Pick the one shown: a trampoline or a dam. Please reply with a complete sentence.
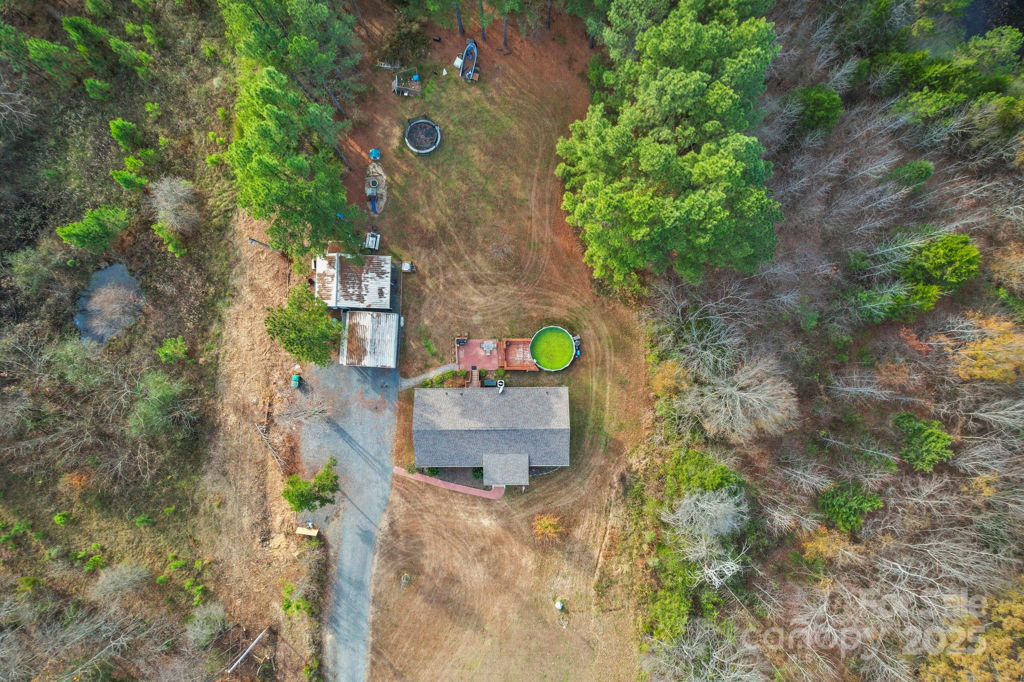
Visible in the photo is a trampoline.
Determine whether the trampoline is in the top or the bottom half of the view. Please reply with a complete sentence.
The top half of the photo is where the trampoline is.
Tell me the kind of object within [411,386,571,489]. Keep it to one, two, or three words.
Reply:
house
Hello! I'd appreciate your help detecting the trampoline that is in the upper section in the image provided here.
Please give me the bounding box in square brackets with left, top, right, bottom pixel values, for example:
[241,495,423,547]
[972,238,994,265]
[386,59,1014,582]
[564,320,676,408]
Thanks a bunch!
[402,110,442,153]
